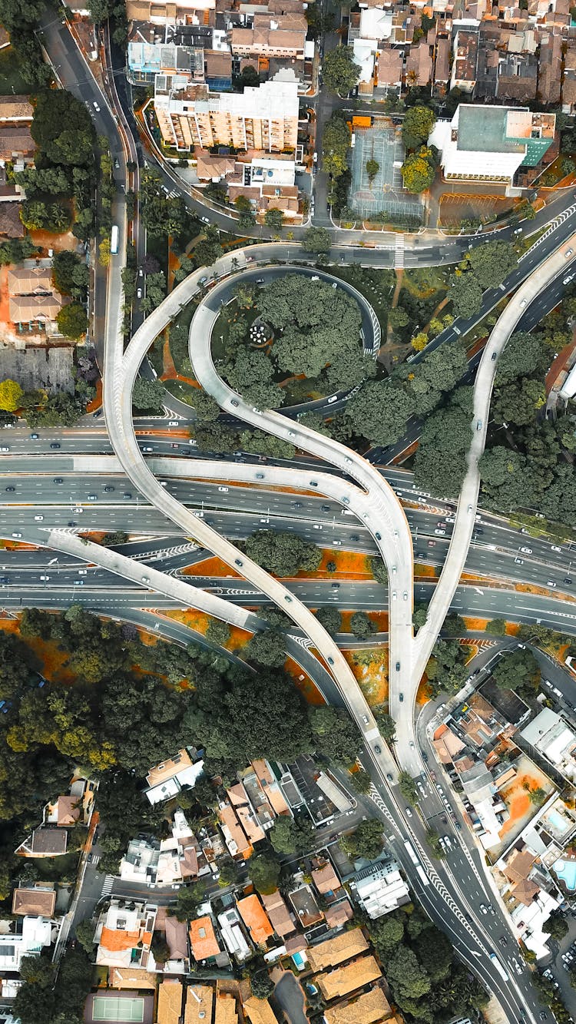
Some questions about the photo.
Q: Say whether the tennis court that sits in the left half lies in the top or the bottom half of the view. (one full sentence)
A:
Seen from above, the tennis court that sits in the left half lies in the bottom half of the view.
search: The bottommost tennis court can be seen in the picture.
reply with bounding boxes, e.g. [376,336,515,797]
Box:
[87,987,154,1024]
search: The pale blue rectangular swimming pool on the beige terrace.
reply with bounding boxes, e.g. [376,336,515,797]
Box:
[549,812,569,831]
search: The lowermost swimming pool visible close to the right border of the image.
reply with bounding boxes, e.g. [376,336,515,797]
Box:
[552,860,576,891]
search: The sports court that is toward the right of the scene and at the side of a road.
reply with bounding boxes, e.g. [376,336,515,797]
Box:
[348,126,423,217]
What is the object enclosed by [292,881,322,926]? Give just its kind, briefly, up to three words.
house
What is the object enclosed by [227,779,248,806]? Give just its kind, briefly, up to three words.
house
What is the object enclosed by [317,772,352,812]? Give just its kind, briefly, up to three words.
shed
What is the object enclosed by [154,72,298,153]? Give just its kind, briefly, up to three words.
building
